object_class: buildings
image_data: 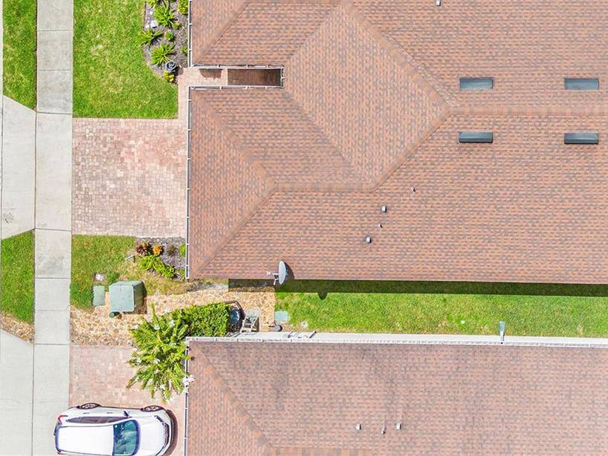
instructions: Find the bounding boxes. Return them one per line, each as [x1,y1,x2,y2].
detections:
[184,326,608,456]
[184,0,608,284]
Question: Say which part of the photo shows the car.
bottom left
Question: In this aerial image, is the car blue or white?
white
